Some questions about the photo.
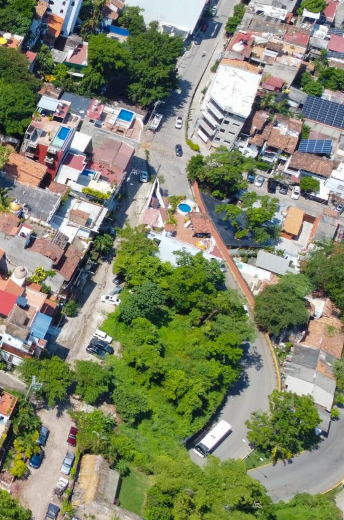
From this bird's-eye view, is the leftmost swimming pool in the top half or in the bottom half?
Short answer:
top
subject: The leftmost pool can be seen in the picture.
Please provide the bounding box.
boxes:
[52,126,72,149]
